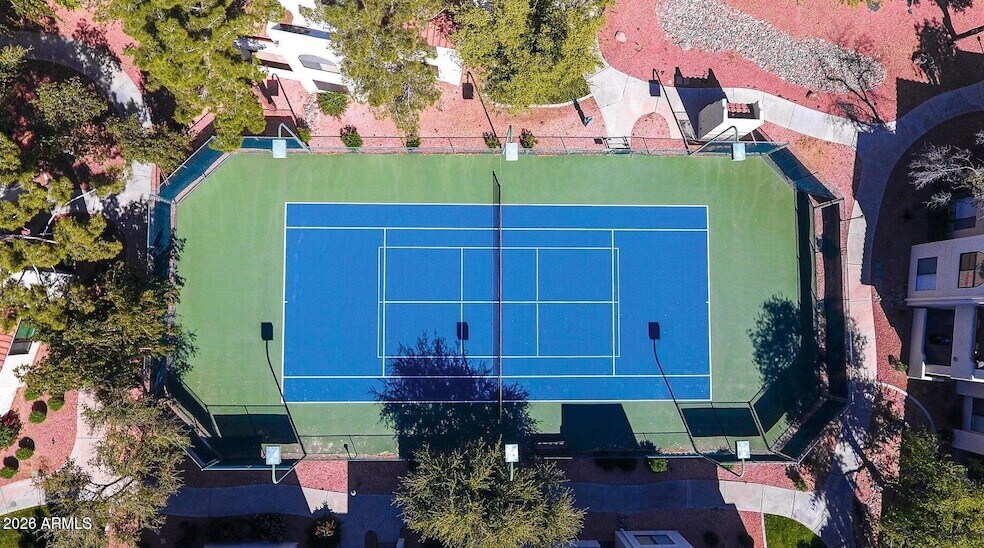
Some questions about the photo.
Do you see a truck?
No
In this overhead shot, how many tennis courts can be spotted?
1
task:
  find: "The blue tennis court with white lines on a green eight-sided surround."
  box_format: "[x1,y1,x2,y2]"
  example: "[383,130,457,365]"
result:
[170,150,824,460]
